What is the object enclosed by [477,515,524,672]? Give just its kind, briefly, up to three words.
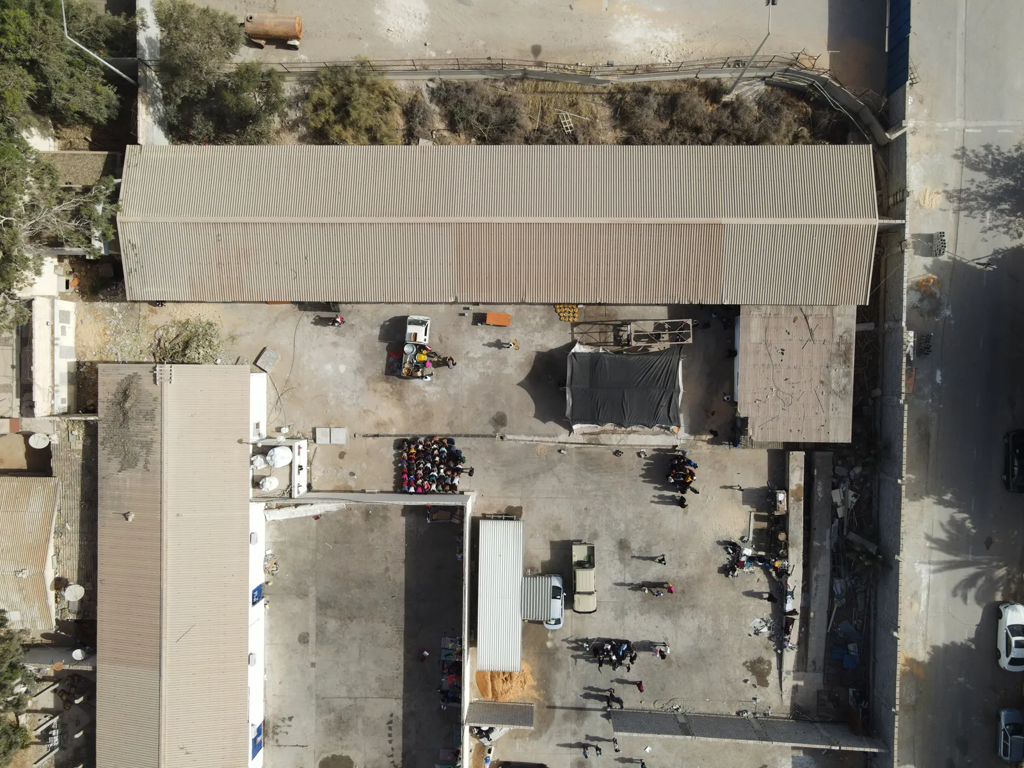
building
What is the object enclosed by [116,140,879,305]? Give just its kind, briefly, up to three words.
shed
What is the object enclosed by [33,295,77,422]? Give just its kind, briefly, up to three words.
house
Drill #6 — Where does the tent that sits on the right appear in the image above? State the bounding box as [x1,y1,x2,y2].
[557,343,689,436]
